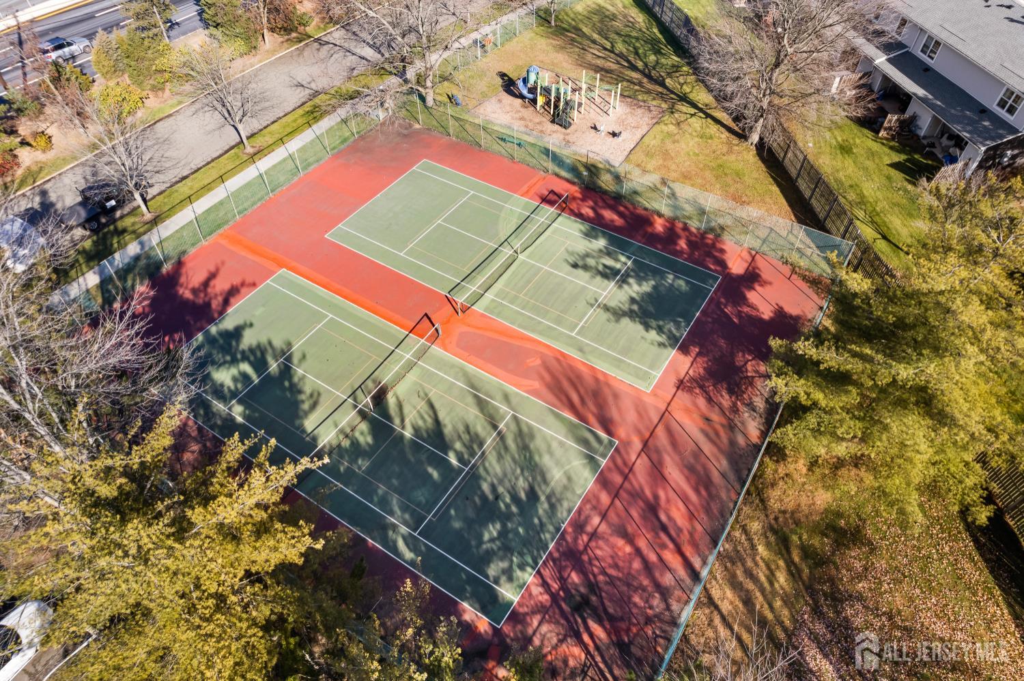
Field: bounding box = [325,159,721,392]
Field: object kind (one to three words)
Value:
tennis court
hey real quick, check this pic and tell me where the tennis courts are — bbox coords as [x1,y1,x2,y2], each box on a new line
[325,159,721,392]
[138,268,617,628]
